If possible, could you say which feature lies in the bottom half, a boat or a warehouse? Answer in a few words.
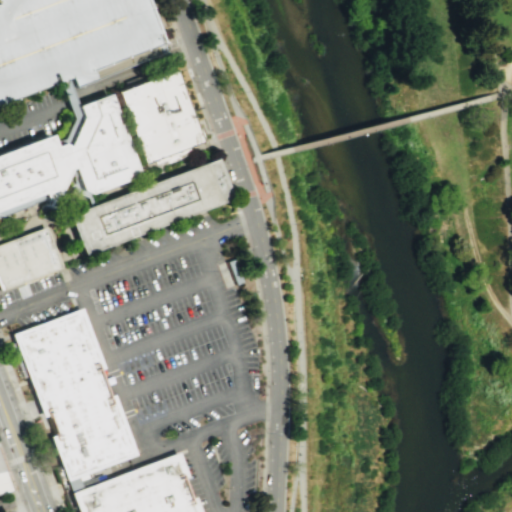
warehouse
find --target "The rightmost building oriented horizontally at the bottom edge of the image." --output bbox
[75,449,207,512]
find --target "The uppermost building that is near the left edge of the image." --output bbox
[0,0,168,100]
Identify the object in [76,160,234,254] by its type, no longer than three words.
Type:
building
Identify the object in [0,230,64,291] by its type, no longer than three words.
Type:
building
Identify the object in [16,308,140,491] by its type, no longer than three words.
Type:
warehouse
